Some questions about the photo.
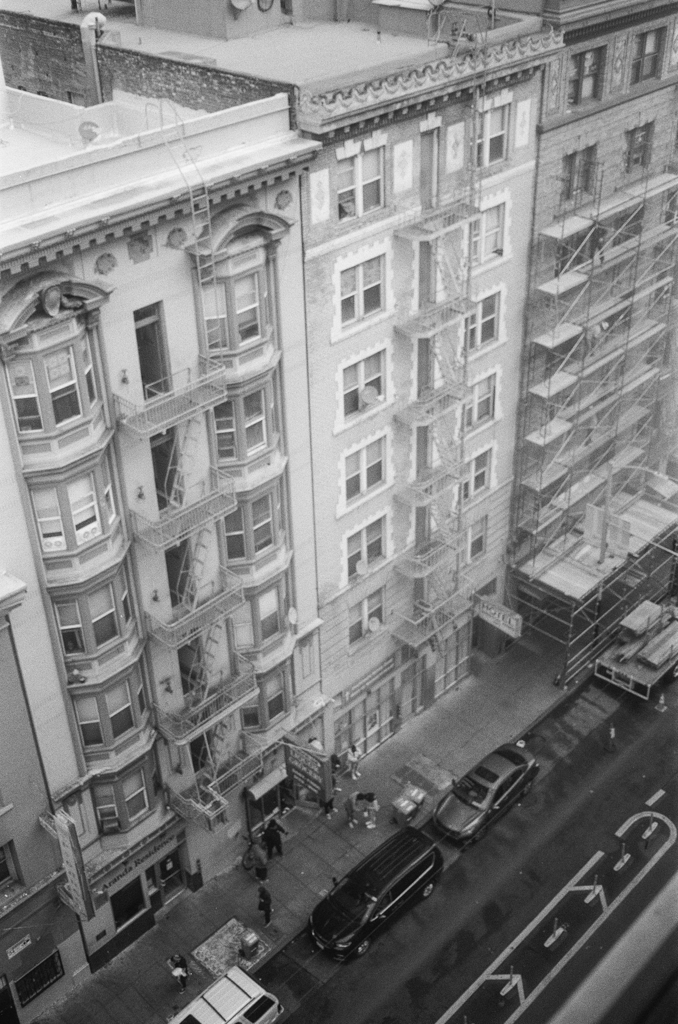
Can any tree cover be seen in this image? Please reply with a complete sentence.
No, there's no tree cover in this view.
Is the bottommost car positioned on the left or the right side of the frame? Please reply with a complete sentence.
It is on the left.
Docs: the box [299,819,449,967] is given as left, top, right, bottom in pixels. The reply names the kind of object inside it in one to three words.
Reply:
car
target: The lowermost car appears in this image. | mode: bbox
[166,959,286,1024]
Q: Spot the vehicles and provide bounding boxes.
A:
[299,819,449,967]
[430,733,552,844]
[596,593,678,703]
[166,959,286,1024]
